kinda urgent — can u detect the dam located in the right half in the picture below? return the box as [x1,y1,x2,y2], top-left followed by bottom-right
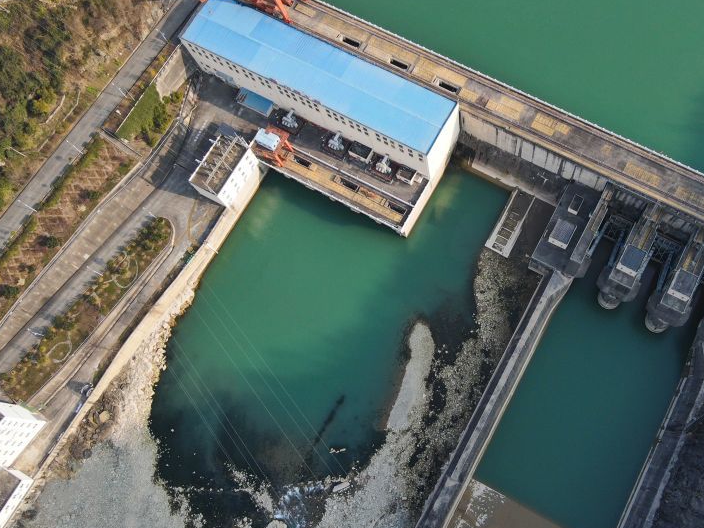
[229,0,704,300]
